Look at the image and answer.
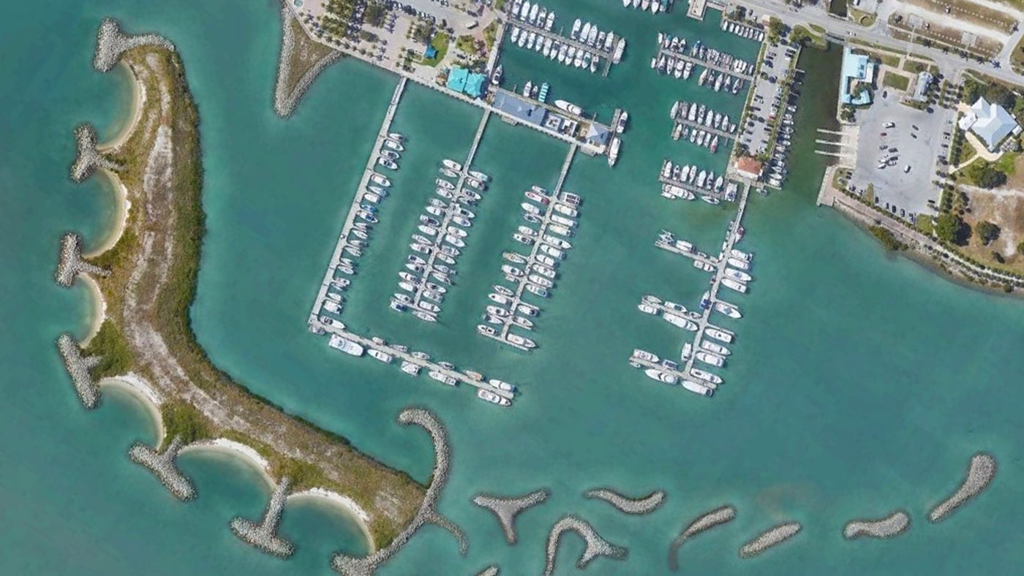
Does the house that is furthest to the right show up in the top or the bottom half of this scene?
top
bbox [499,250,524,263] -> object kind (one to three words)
boat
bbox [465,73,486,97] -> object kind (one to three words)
building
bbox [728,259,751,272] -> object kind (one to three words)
boat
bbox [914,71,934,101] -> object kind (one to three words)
building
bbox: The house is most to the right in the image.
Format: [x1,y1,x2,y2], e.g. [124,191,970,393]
[962,96,1023,152]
